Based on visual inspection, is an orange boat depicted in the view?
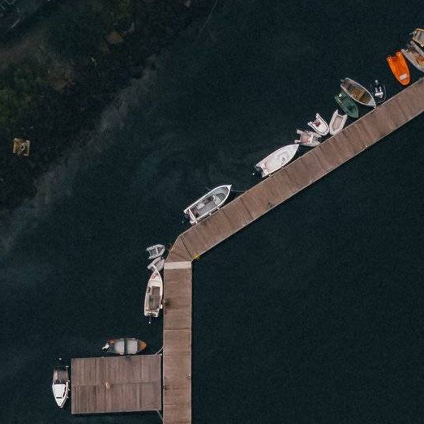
Yes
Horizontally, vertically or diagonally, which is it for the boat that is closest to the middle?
diagonally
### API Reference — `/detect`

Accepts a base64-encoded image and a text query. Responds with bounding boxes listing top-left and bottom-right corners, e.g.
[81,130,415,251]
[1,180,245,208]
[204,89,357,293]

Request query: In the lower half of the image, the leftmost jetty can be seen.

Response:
[71,354,163,416]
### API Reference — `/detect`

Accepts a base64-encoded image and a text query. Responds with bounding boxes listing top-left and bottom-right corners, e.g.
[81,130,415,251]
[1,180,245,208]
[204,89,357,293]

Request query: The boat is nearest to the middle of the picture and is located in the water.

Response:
[181,184,232,227]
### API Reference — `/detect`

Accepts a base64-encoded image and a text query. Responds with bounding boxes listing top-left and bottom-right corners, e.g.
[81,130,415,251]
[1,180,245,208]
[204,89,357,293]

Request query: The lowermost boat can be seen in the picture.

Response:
[52,366,70,410]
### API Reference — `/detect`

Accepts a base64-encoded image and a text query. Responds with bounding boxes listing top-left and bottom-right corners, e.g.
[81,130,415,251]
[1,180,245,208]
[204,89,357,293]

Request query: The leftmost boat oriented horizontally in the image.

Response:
[106,337,147,355]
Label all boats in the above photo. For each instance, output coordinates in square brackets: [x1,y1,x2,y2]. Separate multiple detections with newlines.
[331,91,359,120]
[143,270,162,318]
[372,81,386,103]
[309,115,328,137]
[52,366,70,410]
[337,75,375,109]
[410,25,424,48]
[403,42,424,71]
[254,143,298,179]
[147,258,164,273]
[146,243,166,258]
[106,337,147,355]
[181,184,232,227]
[330,109,347,135]
[295,131,322,150]
[386,51,410,88]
